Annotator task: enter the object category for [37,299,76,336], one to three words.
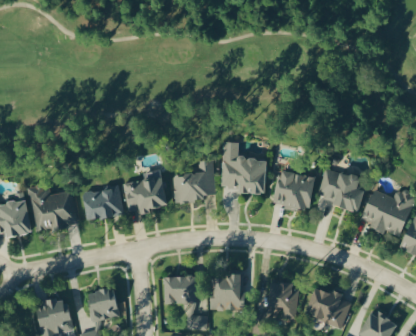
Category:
house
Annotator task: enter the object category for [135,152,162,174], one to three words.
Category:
swimming pool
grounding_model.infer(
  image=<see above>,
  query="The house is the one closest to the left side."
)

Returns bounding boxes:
[0,197,32,236]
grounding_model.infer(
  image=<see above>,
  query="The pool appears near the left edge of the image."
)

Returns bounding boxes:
[0,178,20,200]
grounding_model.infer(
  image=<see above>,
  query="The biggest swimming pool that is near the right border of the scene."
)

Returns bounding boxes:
[379,176,401,196]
